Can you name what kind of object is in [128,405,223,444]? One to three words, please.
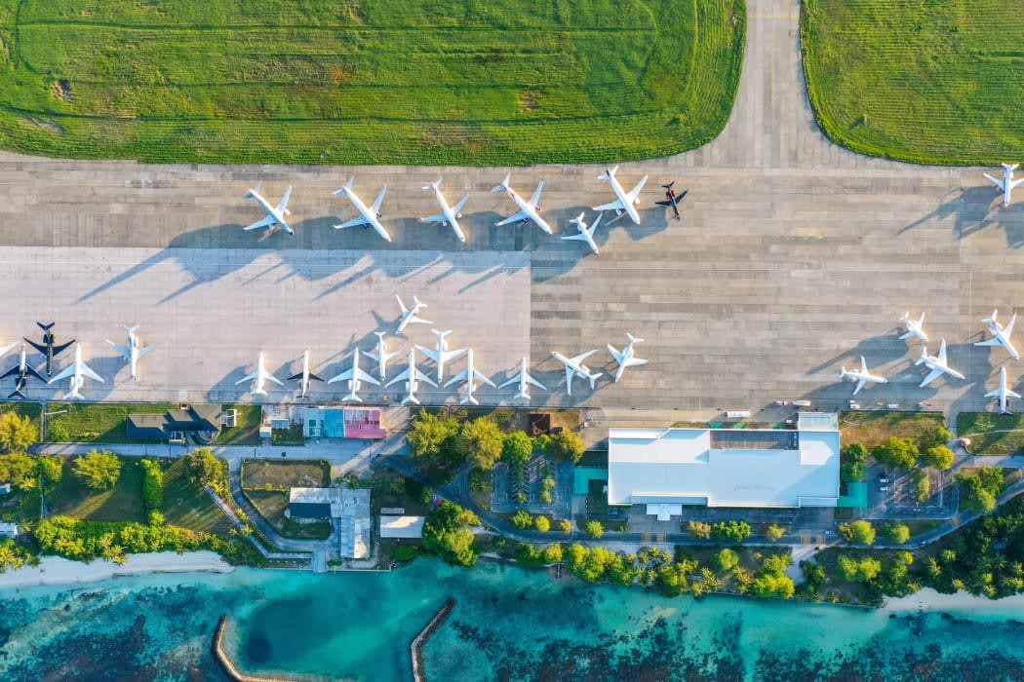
house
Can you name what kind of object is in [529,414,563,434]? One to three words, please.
shed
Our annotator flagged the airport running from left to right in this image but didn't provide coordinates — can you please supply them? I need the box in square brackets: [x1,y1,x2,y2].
[0,0,1024,449]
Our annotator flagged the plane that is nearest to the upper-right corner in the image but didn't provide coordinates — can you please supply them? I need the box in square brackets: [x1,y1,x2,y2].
[985,160,1024,207]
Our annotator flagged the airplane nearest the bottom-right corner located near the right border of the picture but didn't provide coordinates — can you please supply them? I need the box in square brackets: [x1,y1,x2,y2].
[985,367,1023,415]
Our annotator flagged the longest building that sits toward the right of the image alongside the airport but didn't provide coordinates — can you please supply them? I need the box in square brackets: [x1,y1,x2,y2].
[601,411,843,519]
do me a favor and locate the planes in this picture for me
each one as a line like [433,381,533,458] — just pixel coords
[414,329,467,381]
[46,343,103,399]
[361,331,401,378]
[0,344,46,401]
[497,176,553,234]
[985,160,1024,207]
[920,338,964,386]
[286,351,323,401]
[499,358,547,397]
[235,353,283,398]
[19,322,72,375]
[656,183,689,219]
[842,356,886,395]
[423,179,469,241]
[384,349,437,404]
[552,347,600,394]
[606,338,650,381]
[978,312,1022,359]
[445,348,496,404]
[595,168,650,223]
[240,181,291,233]
[563,212,604,253]
[898,310,927,340]
[396,296,432,332]
[335,178,391,241]
[985,367,1023,415]
[105,324,158,378]
[328,348,380,402]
